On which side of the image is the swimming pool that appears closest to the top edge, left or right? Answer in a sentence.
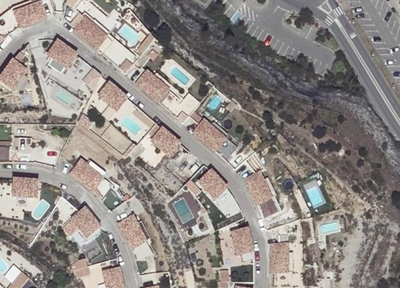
The swimming pool that appears closest to the top edge is on the left side of the image.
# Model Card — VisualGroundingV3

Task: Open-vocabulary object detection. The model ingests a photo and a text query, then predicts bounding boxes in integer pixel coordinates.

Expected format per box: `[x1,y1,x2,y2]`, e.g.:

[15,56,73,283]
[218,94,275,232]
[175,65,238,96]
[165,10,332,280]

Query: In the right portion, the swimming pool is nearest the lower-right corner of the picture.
[320,222,340,234]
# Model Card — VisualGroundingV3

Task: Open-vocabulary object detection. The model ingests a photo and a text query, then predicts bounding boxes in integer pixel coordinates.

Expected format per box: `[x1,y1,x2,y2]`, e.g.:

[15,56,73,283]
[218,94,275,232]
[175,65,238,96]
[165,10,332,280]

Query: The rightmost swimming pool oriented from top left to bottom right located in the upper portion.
[169,66,190,86]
